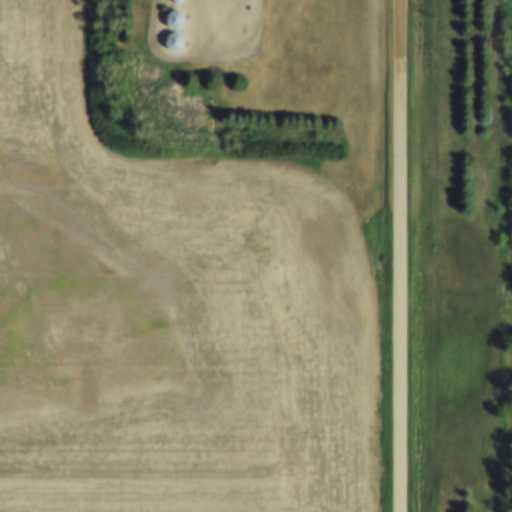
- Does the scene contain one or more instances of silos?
Yes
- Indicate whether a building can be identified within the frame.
No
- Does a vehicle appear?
No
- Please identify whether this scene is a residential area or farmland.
farmland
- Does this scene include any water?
No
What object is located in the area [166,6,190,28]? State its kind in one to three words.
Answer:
silo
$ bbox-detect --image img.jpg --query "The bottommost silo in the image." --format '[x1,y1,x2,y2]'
[166,30,189,51]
